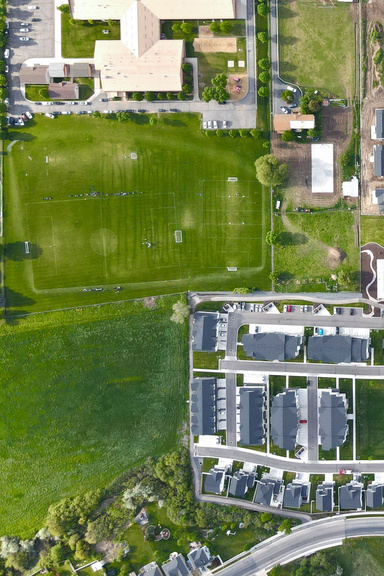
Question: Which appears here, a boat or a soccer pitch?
soccer pitch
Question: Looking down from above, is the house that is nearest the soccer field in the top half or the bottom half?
top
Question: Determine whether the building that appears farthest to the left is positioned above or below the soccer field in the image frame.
above it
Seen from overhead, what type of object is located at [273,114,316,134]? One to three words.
house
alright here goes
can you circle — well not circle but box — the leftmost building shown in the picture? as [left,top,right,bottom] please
[18,65,52,85]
